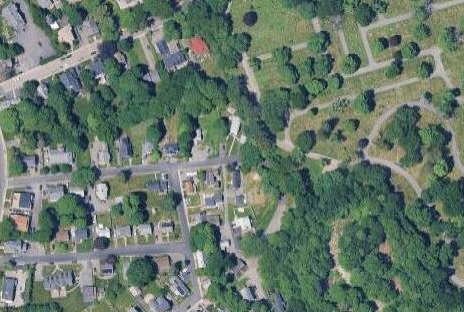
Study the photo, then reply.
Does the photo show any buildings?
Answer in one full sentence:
Yes, a building is visible in the scene.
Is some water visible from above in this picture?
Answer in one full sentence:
No, the scene doesn't show any water.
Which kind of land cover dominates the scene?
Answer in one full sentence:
The scene is dominated by trees.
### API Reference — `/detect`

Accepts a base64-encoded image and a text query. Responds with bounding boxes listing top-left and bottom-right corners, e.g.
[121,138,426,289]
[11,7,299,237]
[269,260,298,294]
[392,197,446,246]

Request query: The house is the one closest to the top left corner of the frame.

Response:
[3,1,28,32]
